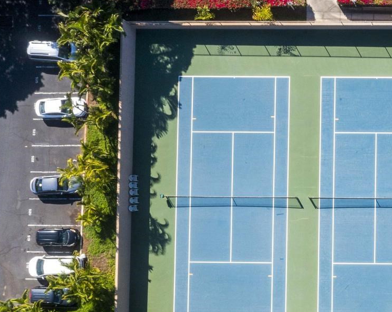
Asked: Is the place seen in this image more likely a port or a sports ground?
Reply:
sports ground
